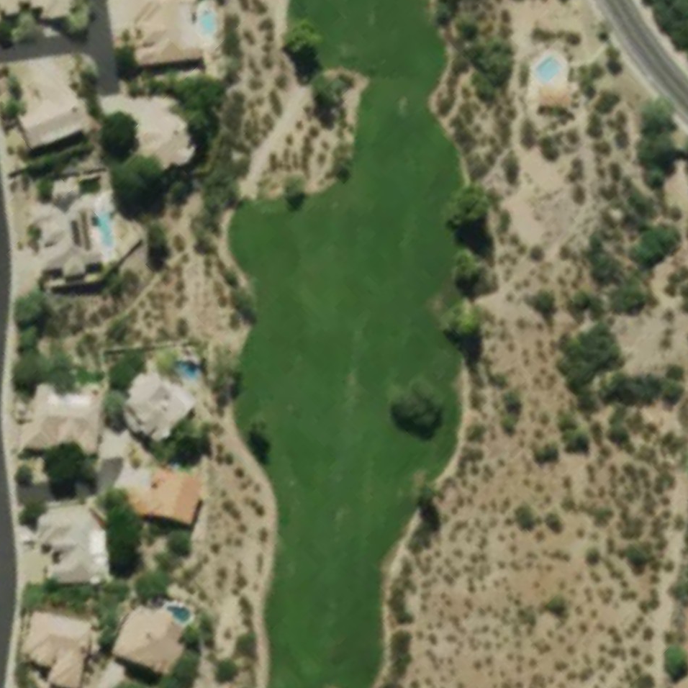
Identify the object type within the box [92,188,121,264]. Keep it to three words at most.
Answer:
swimming pool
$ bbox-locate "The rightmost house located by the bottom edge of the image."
[114,599,184,676]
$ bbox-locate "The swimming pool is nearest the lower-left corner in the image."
[172,601,193,626]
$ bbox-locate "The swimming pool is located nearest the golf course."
[173,354,203,387]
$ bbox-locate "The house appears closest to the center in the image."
[120,371,197,441]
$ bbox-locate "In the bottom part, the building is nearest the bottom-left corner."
[25,612,92,688]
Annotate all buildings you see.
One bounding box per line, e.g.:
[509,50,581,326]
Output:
[114,599,184,676]
[25,612,92,688]
[17,57,91,146]
[120,371,197,441]
[39,506,108,583]
[127,467,199,525]
[111,0,202,67]
[0,0,78,20]
[126,93,196,166]
[35,198,102,277]
[541,89,571,108]
[18,386,107,460]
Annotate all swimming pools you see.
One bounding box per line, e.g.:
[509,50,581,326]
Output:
[531,48,568,92]
[92,188,121,264]
[173,354,203,387]
[198,0,219,43]
[172,601,193,626]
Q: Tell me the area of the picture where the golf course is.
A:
center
